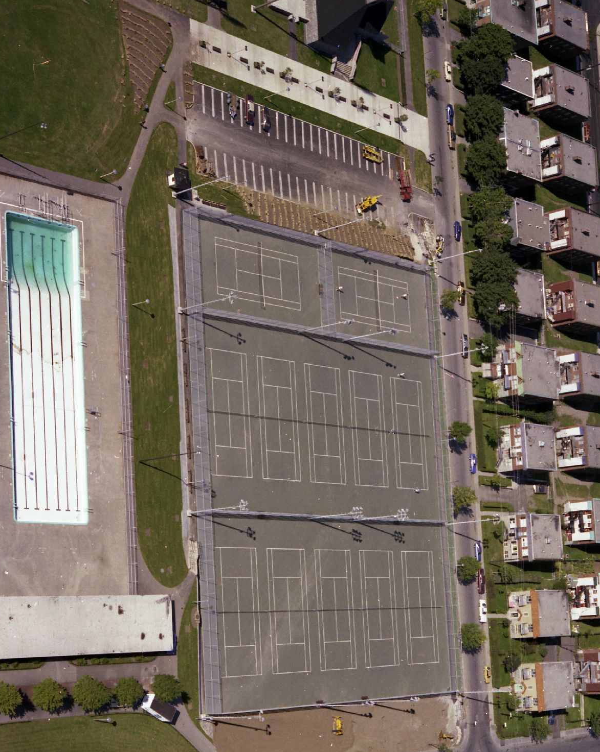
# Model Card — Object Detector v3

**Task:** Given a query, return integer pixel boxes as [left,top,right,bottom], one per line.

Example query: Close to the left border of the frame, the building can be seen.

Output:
[0,594,174,660]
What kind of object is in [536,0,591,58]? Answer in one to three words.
house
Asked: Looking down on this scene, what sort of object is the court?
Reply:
tennis court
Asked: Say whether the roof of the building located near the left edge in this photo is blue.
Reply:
No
